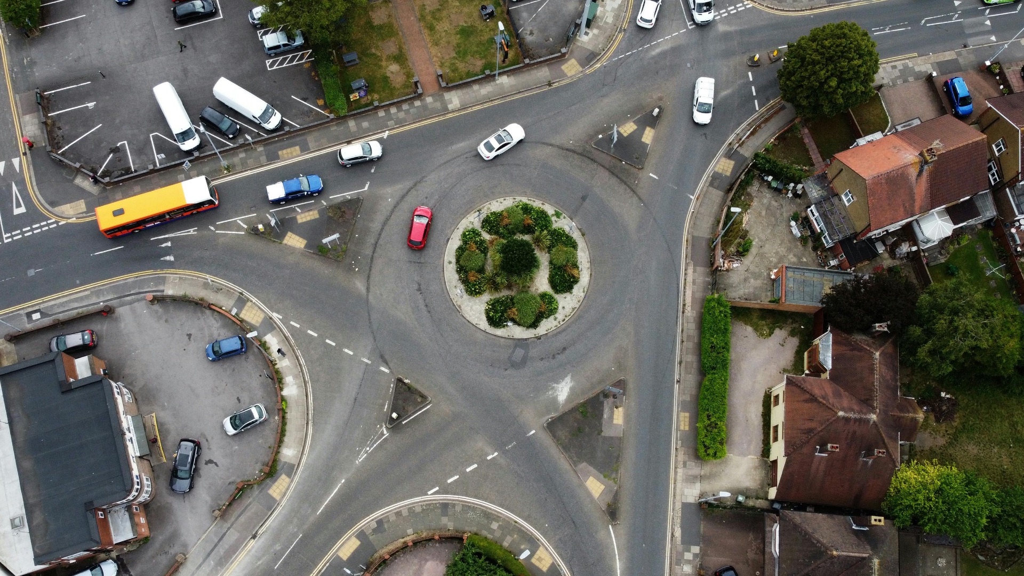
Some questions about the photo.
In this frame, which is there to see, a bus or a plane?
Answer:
bus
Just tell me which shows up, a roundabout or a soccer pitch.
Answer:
roundabout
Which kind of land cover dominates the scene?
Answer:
paved ground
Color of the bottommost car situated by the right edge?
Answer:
blue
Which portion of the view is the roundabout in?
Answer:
center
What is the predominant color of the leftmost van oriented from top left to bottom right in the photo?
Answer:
white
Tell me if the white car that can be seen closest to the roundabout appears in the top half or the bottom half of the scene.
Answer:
top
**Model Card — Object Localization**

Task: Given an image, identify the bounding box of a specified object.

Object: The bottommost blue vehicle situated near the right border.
[948,74,978,113]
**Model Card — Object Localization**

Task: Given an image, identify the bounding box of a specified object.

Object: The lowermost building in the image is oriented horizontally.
[757,510,905,576]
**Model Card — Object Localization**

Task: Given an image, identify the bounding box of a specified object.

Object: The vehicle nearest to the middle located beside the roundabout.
[407,205,432,248]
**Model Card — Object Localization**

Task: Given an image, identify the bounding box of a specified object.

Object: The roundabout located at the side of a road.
[443,199,591,340]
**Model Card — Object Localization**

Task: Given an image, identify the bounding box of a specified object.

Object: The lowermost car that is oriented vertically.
[165,436,200,493]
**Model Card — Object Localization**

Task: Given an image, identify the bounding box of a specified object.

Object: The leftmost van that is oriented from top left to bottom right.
[145,79,197,150]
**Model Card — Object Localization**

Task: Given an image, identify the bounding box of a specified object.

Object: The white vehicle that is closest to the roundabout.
[478,121,526,159]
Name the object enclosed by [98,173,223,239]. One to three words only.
bus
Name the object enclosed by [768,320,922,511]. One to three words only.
house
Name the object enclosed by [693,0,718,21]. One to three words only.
vehicle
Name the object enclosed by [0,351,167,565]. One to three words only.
building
